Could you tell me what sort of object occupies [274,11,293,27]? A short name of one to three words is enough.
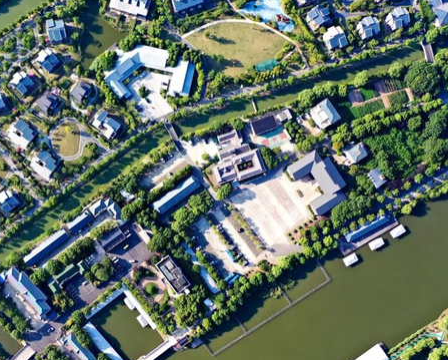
ship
